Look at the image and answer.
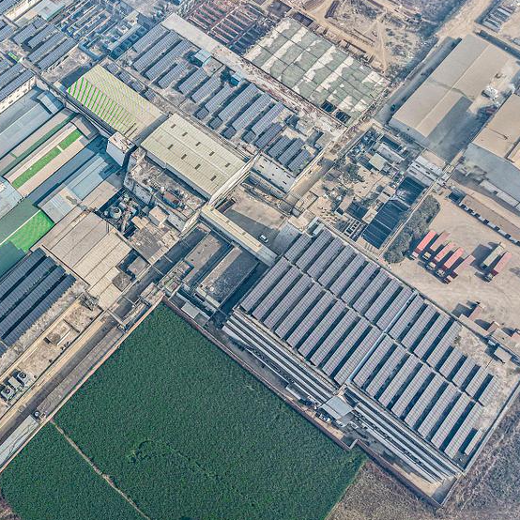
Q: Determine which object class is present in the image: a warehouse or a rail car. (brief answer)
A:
warehouse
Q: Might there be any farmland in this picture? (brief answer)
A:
Yes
